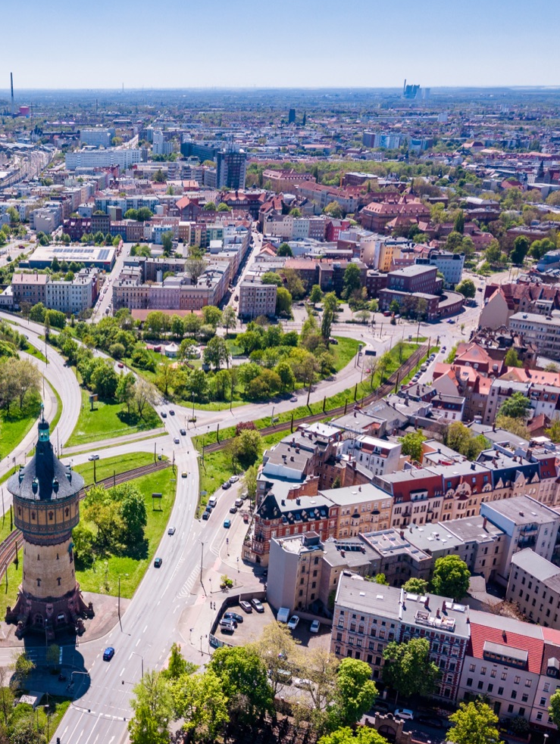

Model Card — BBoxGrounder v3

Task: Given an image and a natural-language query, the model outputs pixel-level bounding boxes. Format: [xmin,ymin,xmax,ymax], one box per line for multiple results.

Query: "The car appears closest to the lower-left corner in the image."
[102,646,115,661]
